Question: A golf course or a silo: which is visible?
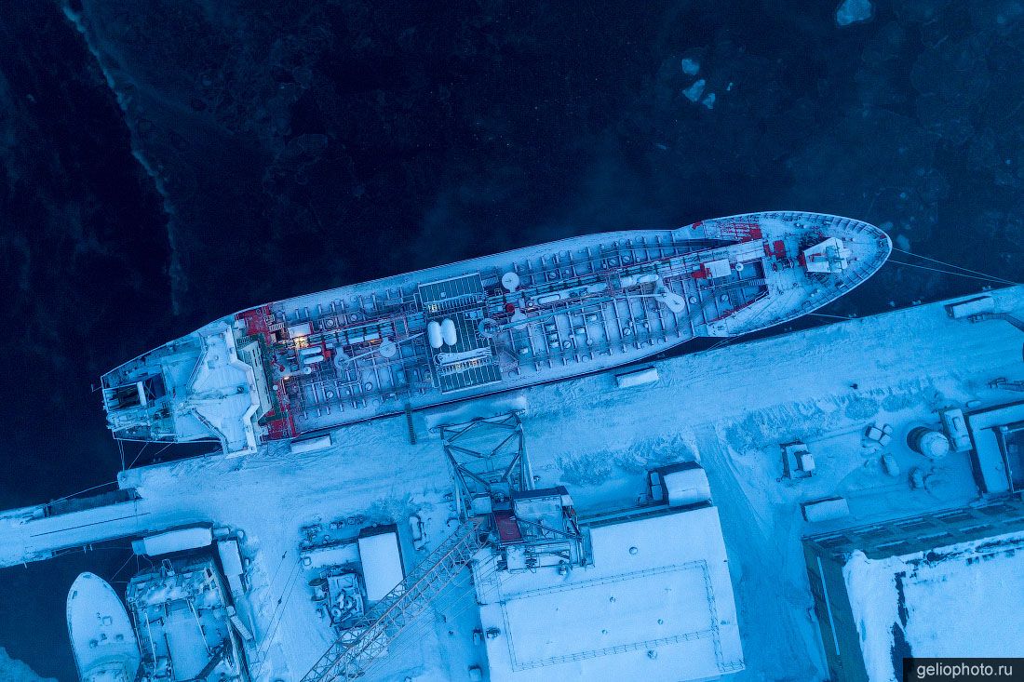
silo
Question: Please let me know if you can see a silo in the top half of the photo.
No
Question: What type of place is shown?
port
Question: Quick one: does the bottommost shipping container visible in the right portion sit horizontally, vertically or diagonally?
horizontally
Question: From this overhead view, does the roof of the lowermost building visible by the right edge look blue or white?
blue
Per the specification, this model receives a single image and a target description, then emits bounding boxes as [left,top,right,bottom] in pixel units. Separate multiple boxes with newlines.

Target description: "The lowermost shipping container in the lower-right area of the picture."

[799,495,849,522]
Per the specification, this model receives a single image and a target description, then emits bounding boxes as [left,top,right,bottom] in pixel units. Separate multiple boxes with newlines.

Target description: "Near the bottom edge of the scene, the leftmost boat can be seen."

[67,571,141,682]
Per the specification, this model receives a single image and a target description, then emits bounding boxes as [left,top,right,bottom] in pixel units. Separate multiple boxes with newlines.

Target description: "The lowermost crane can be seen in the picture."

[283,407,593,682]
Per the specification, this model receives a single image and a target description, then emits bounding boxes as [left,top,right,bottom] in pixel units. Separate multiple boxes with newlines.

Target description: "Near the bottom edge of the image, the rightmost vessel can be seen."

[127,553,255,682]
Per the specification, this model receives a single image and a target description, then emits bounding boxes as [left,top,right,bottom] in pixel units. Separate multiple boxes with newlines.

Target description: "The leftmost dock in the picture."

[0,491,149,569]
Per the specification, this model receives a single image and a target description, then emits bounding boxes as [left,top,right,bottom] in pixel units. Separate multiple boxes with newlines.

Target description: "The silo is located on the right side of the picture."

[904,427,951,460]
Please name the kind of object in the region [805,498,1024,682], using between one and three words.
building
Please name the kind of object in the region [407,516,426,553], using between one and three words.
vehicle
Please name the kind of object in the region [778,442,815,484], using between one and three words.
trailer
